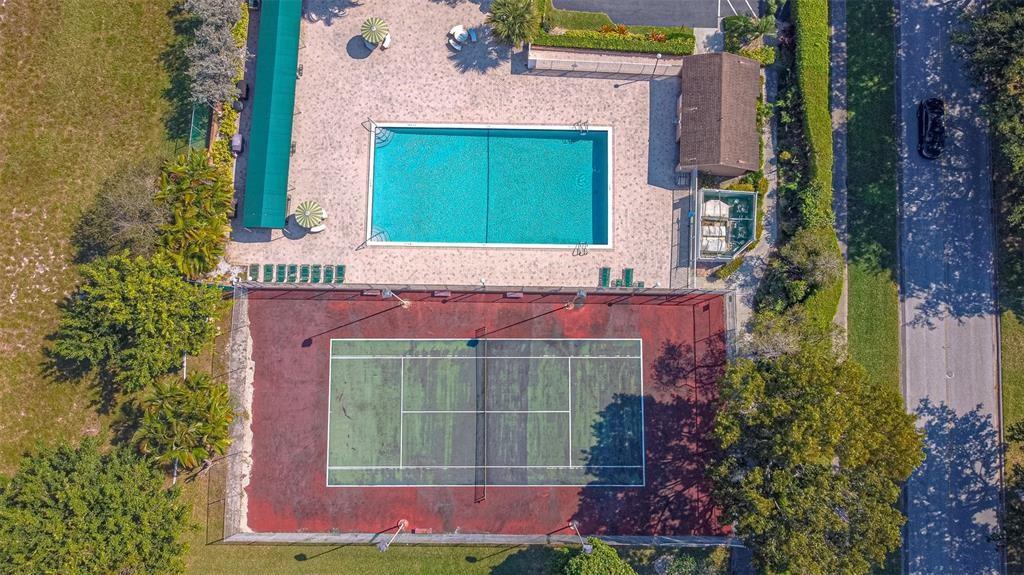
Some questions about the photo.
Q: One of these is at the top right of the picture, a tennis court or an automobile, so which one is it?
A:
automobile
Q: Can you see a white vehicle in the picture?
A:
No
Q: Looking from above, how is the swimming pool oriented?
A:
from left to right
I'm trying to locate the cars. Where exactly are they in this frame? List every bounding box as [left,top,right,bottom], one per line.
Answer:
[917,98,949,158]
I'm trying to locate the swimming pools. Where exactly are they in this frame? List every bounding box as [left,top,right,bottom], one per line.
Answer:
[366,123,613,249]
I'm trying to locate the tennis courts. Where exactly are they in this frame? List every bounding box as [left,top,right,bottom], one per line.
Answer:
[222,289,742,539]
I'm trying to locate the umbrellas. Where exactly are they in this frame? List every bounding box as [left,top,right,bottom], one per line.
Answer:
[296,201,324,228]
[361,18,388,45]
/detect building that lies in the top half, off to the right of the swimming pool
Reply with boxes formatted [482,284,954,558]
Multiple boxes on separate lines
[674,53,760,173]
